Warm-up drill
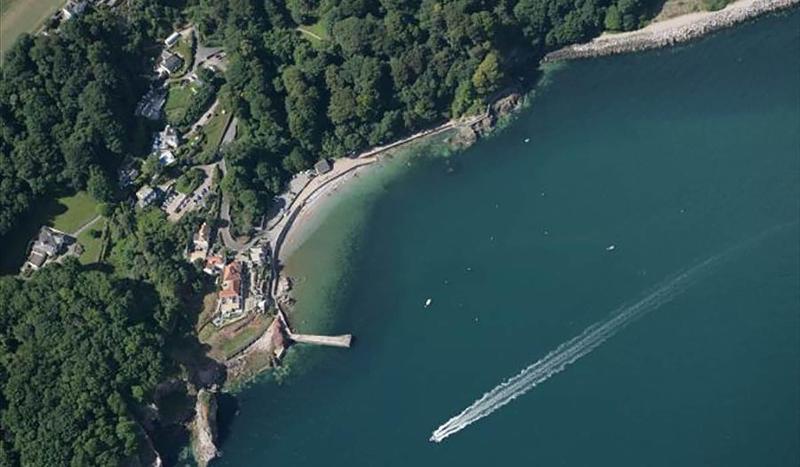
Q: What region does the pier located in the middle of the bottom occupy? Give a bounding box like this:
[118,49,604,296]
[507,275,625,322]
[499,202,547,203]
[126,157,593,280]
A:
[290,333,352,349]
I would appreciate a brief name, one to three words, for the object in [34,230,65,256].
house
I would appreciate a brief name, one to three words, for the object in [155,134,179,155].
house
